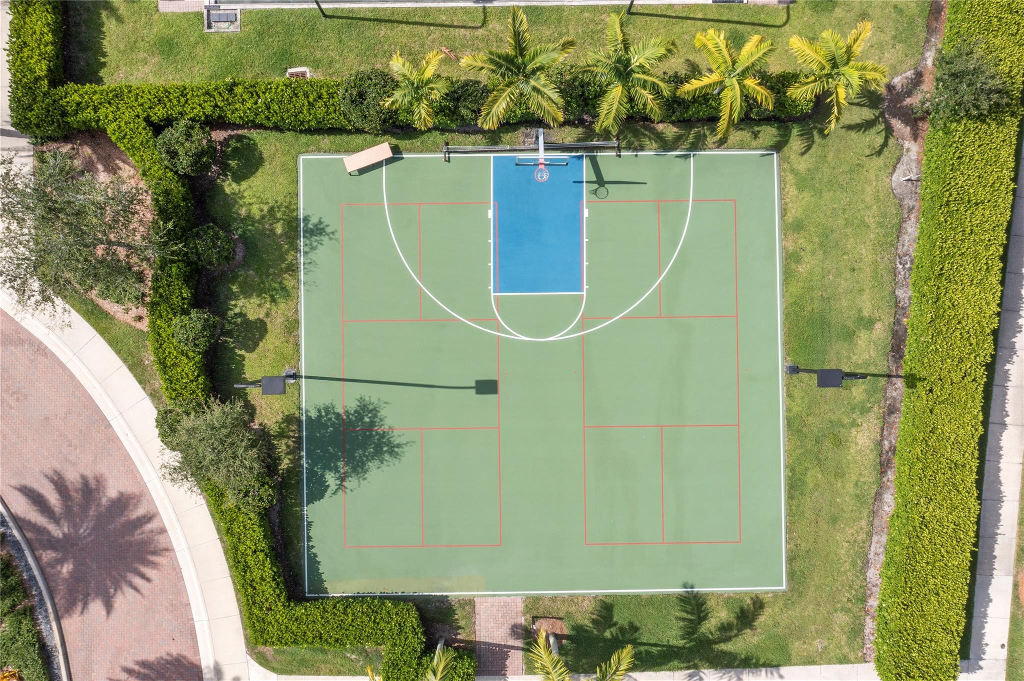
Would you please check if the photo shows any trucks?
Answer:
No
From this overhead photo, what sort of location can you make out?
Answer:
sports ground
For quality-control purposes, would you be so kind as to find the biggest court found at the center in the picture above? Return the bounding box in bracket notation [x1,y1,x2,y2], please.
[298,149,787,600]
